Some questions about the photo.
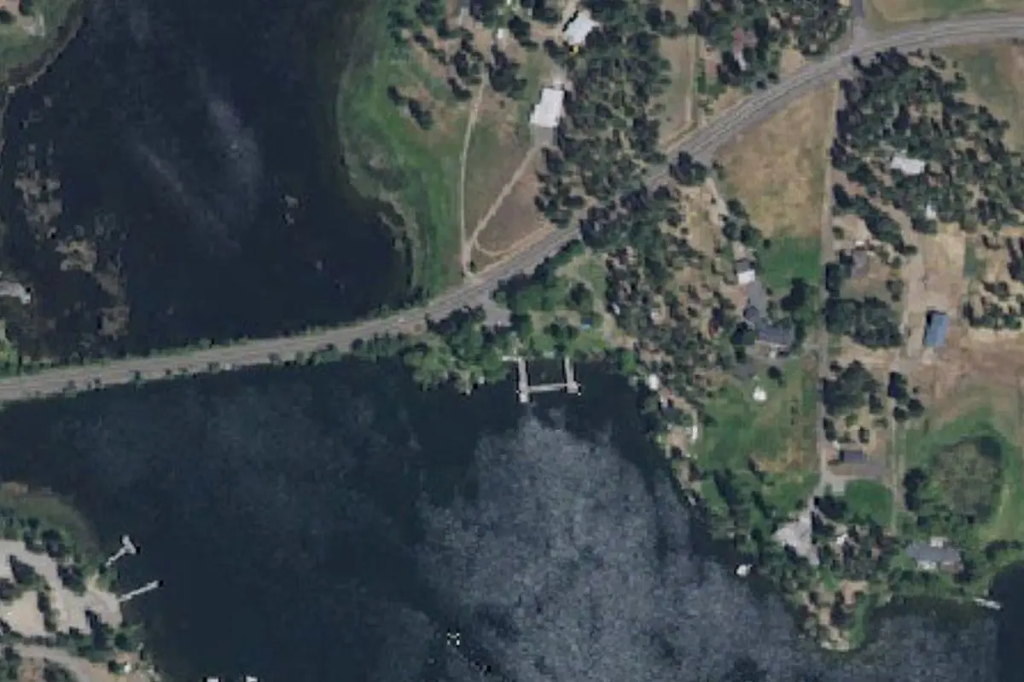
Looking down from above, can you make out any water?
Yes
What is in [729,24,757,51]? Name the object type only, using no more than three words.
house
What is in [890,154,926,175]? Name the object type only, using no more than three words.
house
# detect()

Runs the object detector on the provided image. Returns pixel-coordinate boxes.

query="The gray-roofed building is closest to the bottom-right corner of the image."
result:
[907,536,962,577]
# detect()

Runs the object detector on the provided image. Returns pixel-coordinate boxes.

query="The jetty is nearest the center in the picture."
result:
[503,356,581,401]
